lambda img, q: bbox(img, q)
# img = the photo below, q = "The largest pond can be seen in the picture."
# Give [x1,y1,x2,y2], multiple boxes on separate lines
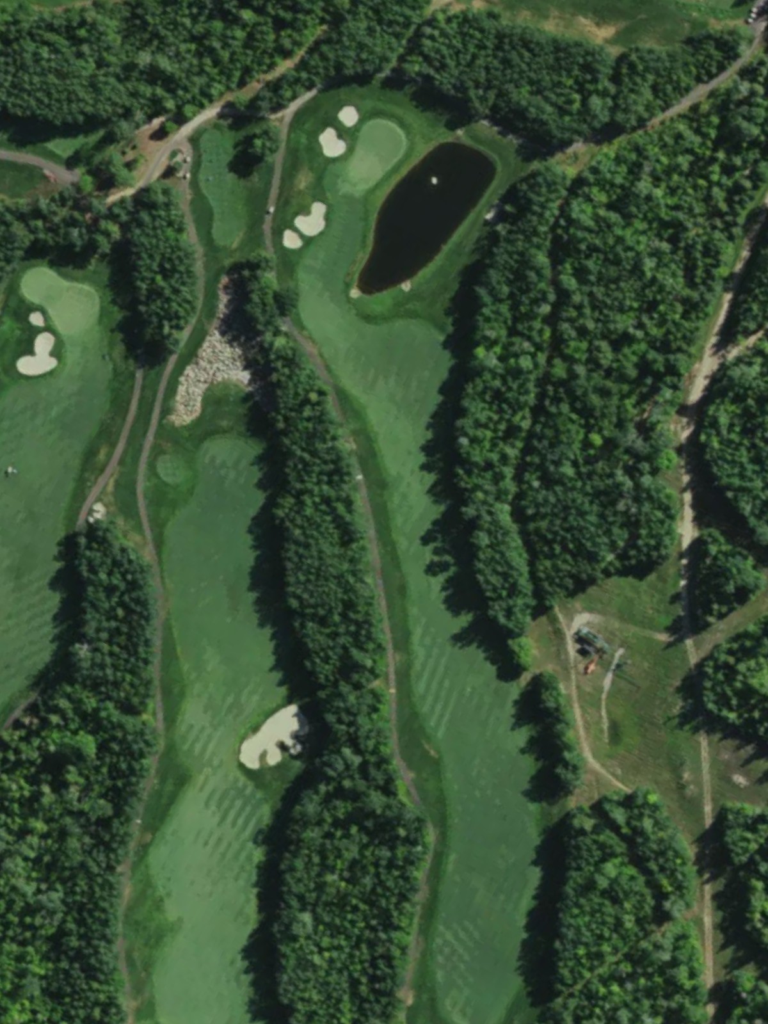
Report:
[357,141,497,294]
